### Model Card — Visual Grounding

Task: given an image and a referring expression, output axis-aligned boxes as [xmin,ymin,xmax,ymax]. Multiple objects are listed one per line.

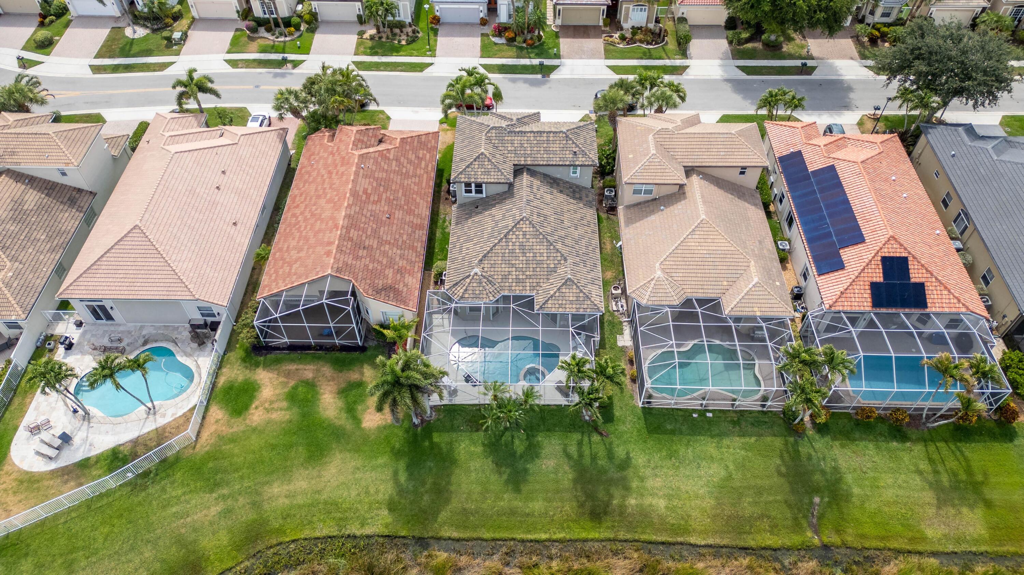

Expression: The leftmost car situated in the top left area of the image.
[242,106,271,126]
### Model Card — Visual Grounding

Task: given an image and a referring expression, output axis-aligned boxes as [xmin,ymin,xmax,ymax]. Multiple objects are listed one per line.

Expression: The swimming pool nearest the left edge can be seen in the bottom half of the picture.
[70,343,198,421]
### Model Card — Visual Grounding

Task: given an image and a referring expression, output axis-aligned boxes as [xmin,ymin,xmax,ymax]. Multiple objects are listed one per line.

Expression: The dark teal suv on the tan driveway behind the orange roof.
[821,110,851,135]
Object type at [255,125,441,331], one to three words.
house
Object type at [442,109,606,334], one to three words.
house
